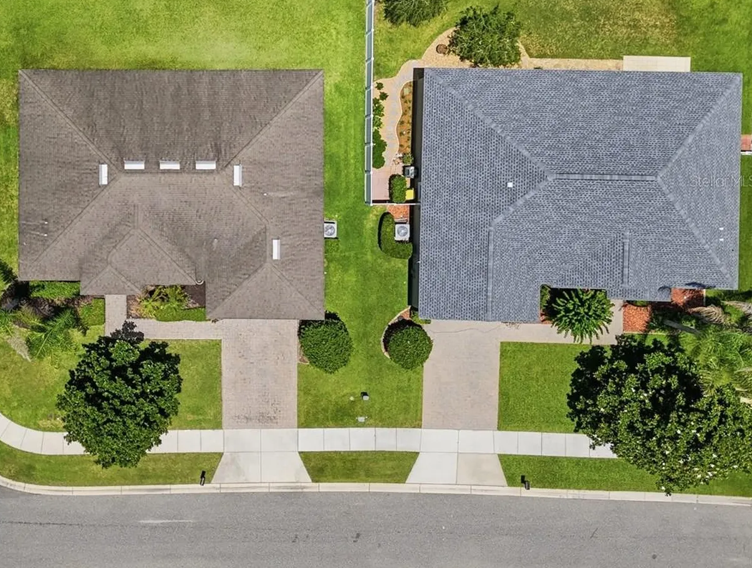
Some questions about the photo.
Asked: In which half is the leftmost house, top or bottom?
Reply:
top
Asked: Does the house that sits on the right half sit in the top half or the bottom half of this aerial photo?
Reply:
top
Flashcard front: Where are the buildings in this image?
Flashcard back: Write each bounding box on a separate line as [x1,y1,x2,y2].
[18,68,325,321]
[413,68,743,322]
